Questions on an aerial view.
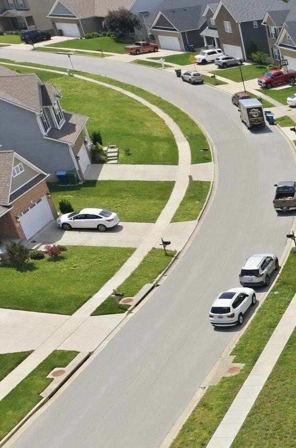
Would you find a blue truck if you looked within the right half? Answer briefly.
No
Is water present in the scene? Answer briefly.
No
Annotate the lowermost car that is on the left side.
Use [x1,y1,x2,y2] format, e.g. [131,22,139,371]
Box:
[58,207,120,230]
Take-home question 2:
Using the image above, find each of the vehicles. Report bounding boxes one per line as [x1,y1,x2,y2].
[274,179,296,210]
[284,93,296,105]
[240,253,278,287]
[58,207,120,230]
[20,29,47,41]
[211,53,244,67]
[256,70,296,88]
[181,68,201,81]
[207,287,257,326]
[196,46,226,63]
[124,40,160,54]
[238,89,264,124]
